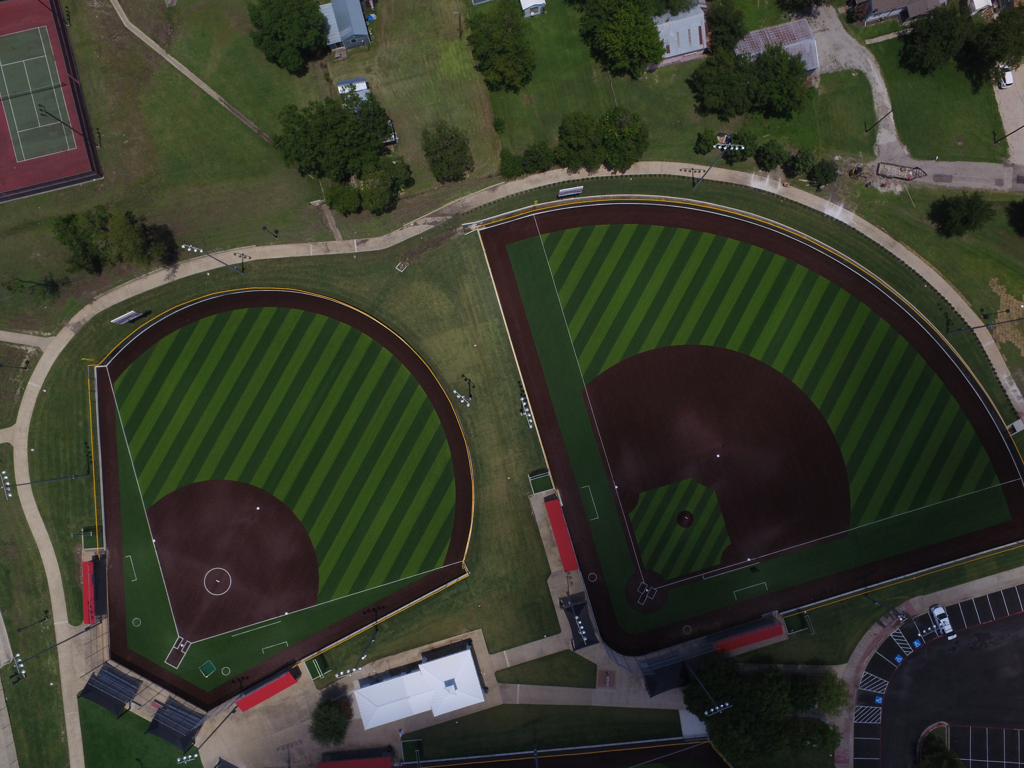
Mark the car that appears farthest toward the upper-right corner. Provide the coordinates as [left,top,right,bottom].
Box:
[998,64,1018,91]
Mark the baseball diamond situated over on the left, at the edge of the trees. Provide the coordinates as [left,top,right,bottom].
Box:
[96,291,473,712]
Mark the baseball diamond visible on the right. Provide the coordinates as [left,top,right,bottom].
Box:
[480,205,1024,655]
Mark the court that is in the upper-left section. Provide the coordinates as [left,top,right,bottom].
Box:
[0,0,92,194]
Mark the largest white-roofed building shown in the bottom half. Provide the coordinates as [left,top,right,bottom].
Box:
[354,649,484,730]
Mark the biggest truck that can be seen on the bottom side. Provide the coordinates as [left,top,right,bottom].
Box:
[930,603,955,638]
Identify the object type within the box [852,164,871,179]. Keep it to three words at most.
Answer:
work vehicle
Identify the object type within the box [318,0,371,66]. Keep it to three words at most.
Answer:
house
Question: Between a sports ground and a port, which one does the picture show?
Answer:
sports ground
